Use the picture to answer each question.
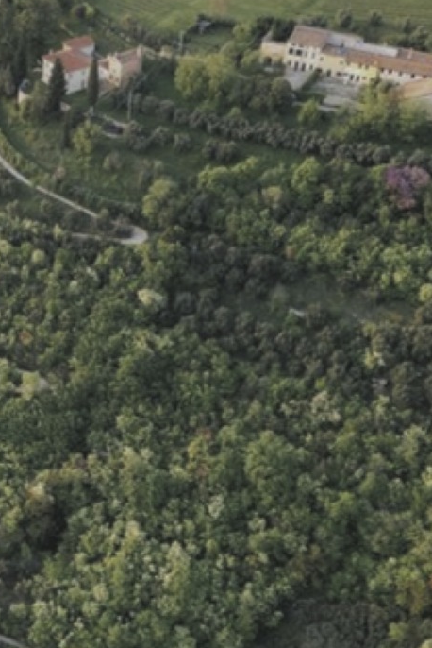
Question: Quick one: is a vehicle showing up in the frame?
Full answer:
No, the photo shows no vehicle.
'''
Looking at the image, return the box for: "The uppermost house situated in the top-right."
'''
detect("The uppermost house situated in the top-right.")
[263,18,432,84]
